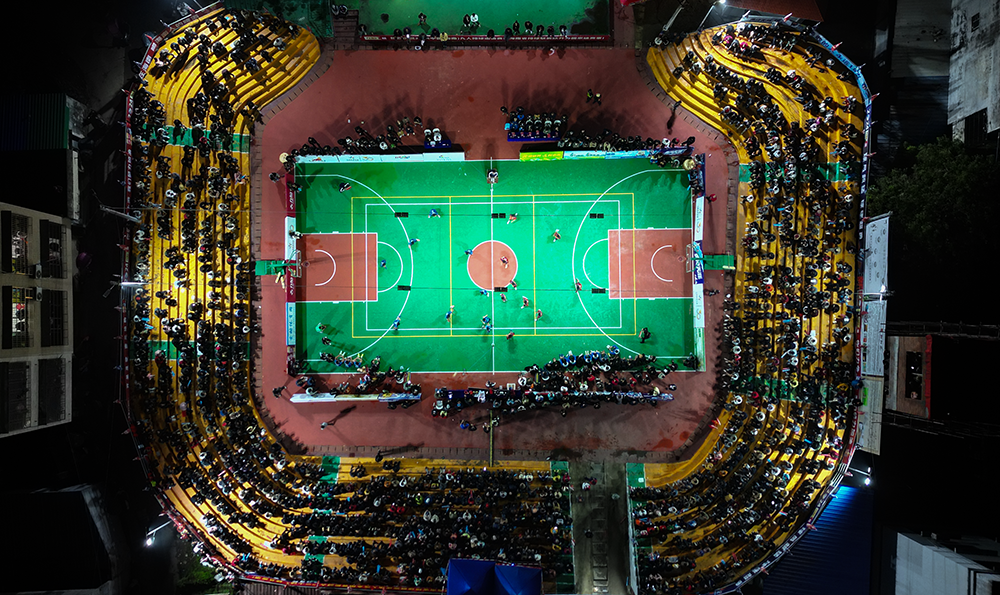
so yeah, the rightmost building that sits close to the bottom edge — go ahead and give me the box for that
[896,532,1000,595]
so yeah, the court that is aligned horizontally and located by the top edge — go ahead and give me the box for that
[359,0,612,33]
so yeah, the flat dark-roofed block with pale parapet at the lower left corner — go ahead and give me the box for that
[0,474,138,595]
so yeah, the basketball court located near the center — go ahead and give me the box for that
[294,157,696,374]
